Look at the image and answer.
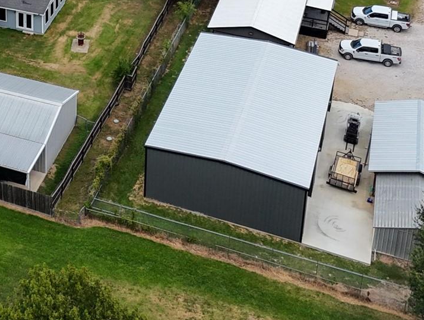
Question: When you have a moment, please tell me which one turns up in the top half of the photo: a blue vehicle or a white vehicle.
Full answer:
Looking in the top half of the photo, you will find a white vehicle.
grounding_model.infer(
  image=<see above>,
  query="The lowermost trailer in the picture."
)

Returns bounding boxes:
[327,139,362,195]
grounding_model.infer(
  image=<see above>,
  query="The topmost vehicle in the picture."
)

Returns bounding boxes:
[349,2,412,32]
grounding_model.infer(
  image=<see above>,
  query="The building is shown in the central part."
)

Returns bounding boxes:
[141,30,331,241]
